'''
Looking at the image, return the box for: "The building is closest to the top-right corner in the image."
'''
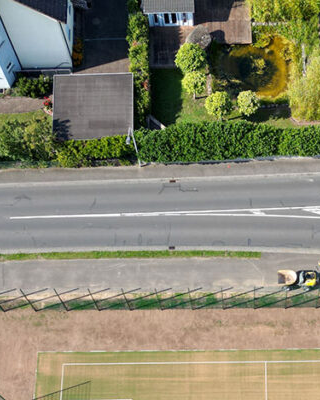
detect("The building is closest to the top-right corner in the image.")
[141,0,195,25]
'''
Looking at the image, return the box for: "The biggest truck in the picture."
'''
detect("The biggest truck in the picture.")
[279,268,317,294]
